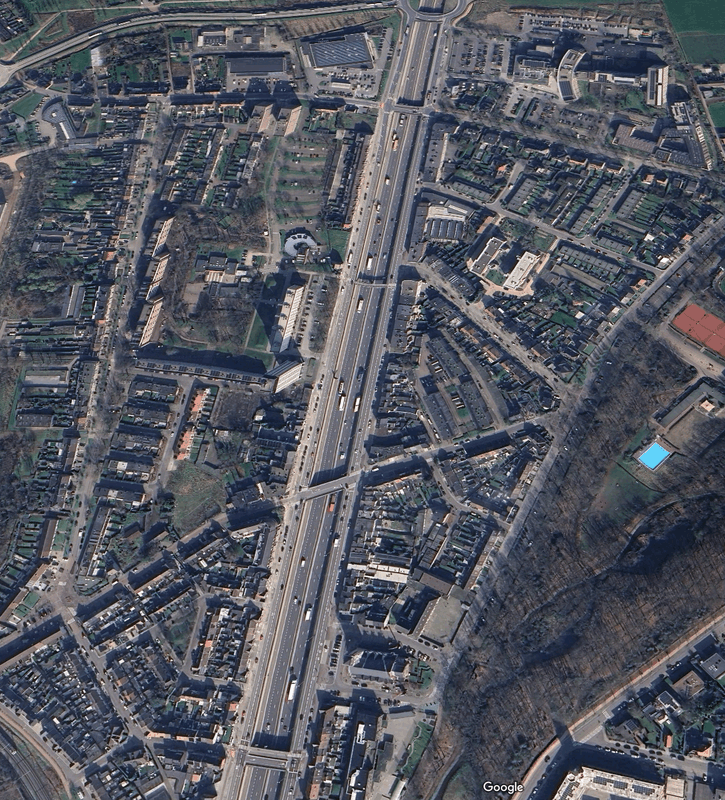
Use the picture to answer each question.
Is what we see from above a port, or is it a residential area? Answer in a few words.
residential area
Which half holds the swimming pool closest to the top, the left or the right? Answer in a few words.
right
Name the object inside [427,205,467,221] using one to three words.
building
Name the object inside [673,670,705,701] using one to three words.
house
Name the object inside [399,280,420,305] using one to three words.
building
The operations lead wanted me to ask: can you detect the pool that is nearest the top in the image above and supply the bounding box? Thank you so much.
[638,441,672,473]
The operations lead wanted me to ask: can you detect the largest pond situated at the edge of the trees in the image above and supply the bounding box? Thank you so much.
[615,516,718,576]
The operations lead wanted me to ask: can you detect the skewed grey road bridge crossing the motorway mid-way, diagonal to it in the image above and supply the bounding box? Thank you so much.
[303,475,348,501]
